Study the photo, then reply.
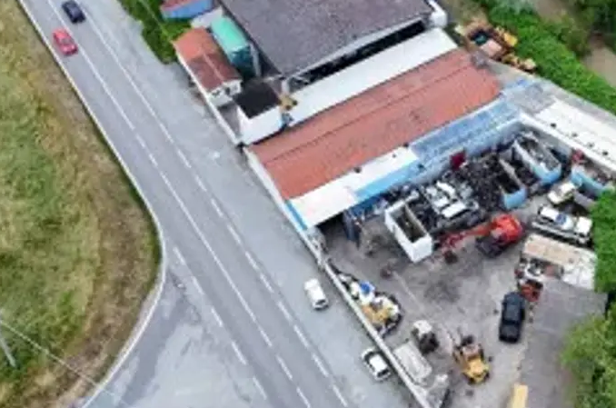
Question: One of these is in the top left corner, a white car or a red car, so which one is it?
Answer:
red car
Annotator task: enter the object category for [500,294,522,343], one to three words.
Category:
truck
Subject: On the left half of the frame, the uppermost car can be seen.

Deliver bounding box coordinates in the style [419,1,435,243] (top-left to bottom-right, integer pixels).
[61,0,86,26]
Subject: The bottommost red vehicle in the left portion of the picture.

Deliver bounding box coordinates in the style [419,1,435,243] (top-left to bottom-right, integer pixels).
[51,30,77,58]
